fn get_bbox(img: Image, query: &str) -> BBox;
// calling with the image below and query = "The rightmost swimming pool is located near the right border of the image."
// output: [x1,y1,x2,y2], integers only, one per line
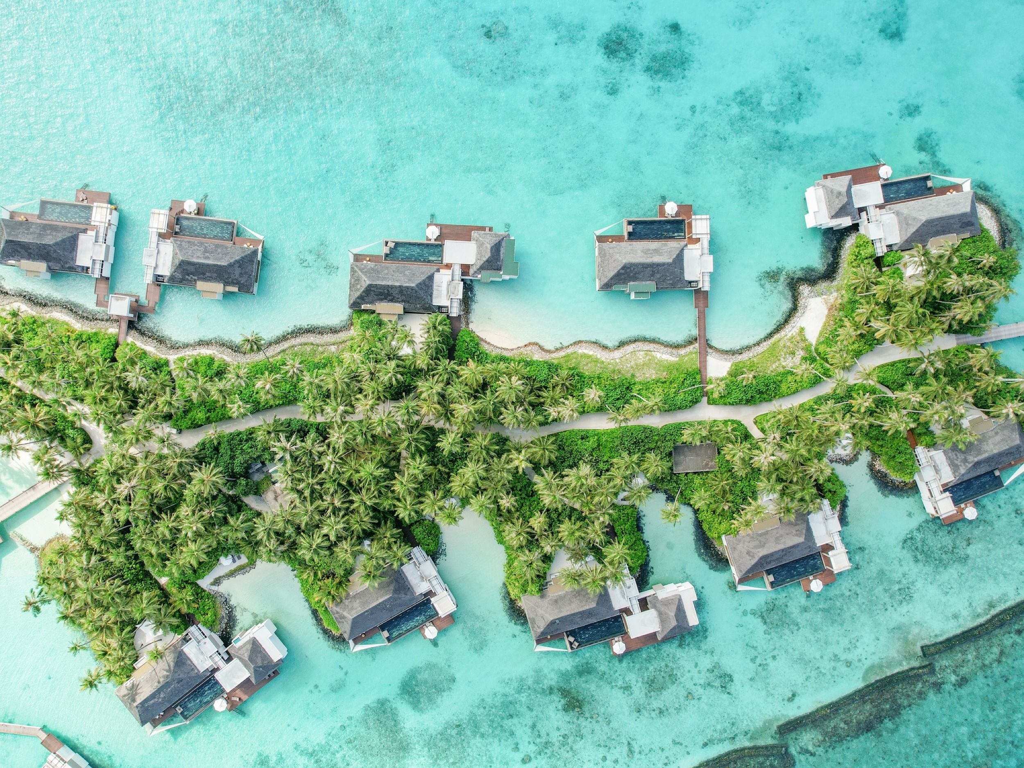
[949,461,1017,502]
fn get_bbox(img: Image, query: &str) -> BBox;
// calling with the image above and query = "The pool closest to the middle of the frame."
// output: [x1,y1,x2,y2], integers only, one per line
[380,240,444,264]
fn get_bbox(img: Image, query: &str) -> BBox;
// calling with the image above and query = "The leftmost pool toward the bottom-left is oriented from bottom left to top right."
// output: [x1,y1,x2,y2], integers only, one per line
[172,674,230,726]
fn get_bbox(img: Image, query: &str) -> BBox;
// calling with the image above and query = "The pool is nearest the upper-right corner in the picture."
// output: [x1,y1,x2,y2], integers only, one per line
[876,172,938,204]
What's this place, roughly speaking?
residential area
